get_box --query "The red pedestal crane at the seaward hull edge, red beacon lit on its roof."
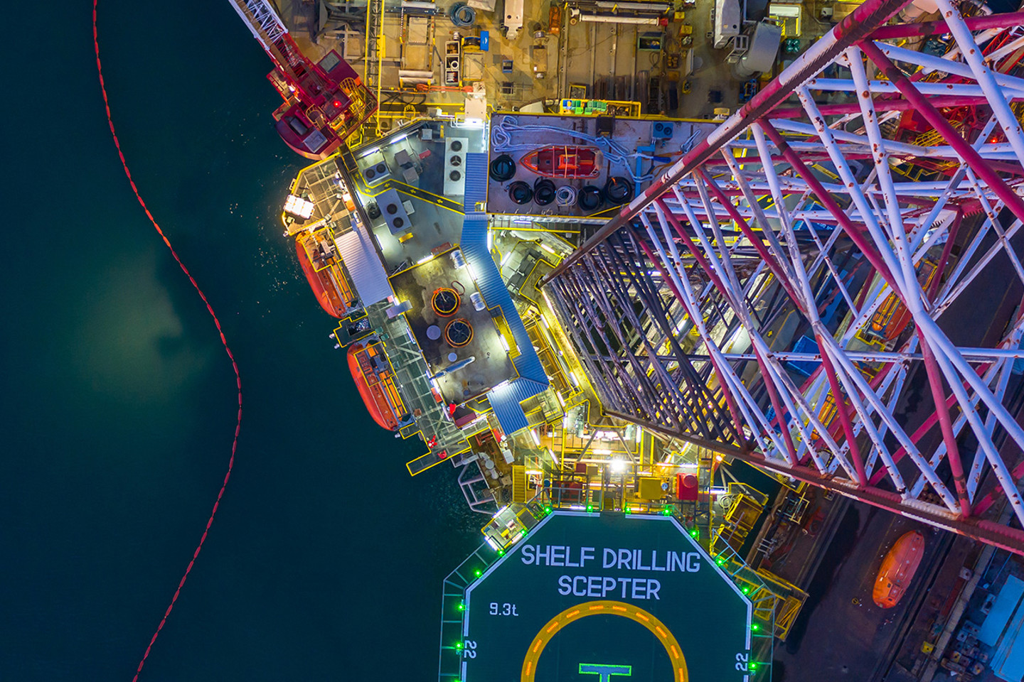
[230,0,378,170]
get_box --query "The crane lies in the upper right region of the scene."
[890,60,1024,180]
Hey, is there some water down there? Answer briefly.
Yes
